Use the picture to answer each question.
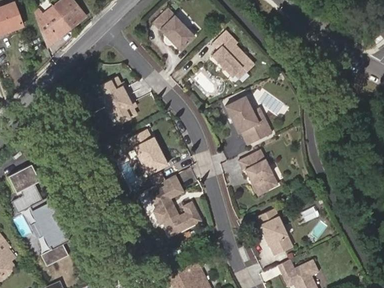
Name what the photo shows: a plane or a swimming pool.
swimming pool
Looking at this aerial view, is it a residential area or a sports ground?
residential area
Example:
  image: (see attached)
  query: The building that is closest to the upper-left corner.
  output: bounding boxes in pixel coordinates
[0,1,24,35]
